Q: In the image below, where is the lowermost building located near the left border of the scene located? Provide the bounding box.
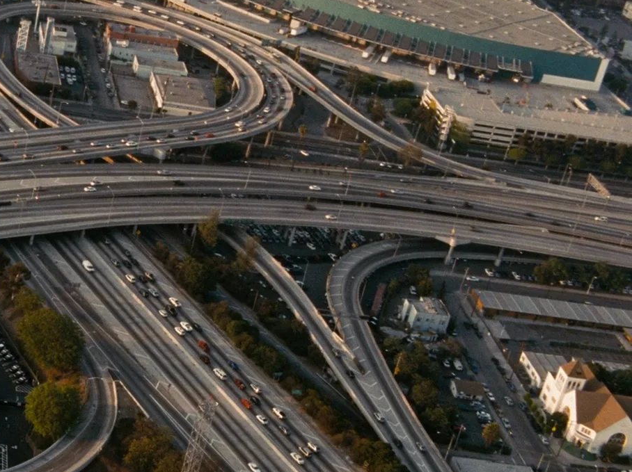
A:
[14,52,61,96]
